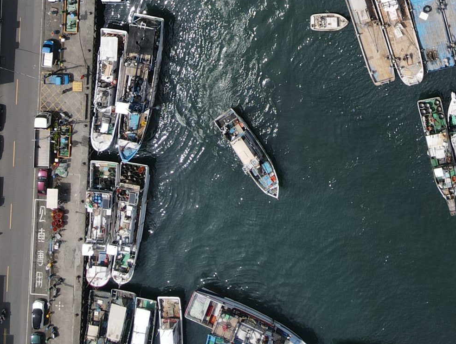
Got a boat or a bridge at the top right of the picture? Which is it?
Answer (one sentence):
What appears at the top right of the picture is a boat.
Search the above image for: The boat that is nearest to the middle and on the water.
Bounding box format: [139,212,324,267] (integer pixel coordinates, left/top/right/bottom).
[215,108,282,202]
